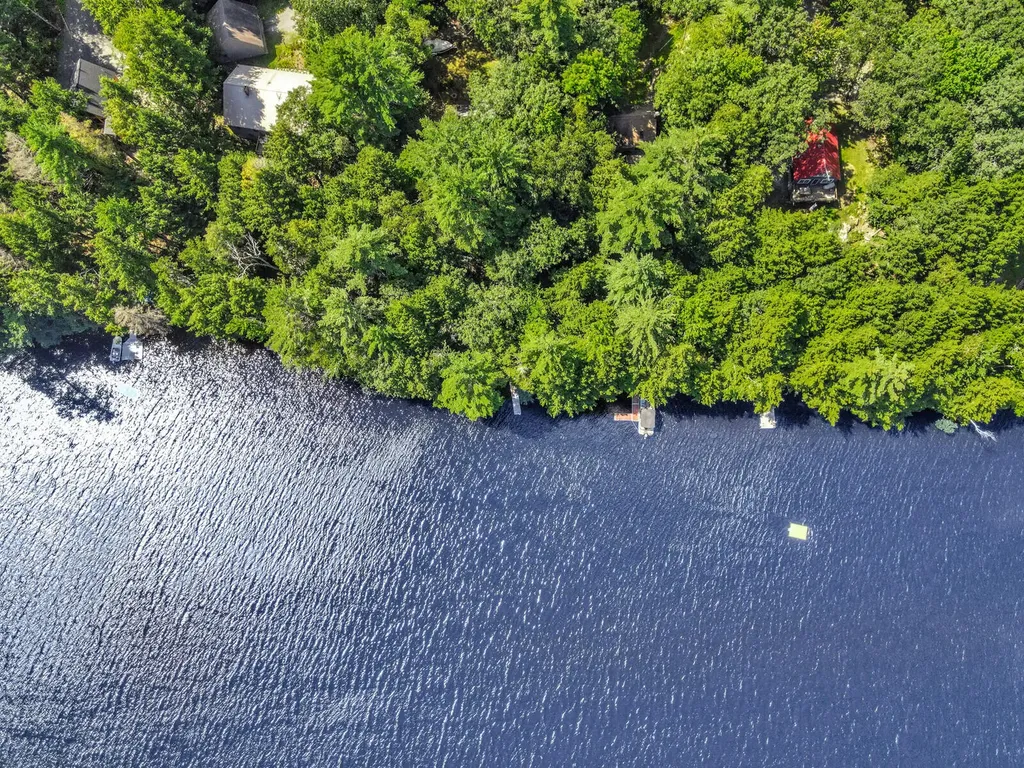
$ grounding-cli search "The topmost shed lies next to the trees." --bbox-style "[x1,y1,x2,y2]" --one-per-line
[214,0,270,67]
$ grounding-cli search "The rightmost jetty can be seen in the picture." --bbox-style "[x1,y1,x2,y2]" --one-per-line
[759,397,776,429]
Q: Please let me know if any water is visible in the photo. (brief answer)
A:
Yes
